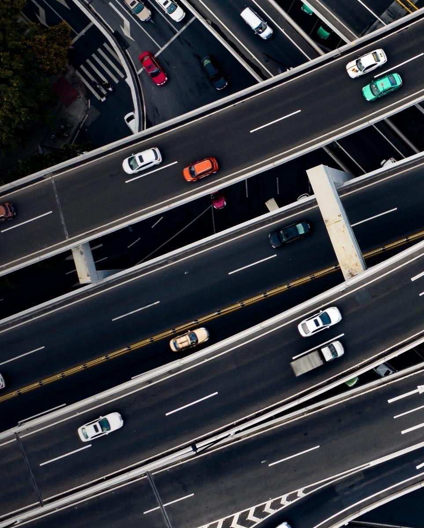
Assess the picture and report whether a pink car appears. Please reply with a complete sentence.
Yes, the frame does contain a pink car.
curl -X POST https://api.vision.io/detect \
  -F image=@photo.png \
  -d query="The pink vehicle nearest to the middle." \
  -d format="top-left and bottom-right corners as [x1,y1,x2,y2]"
[208,189,227,211]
